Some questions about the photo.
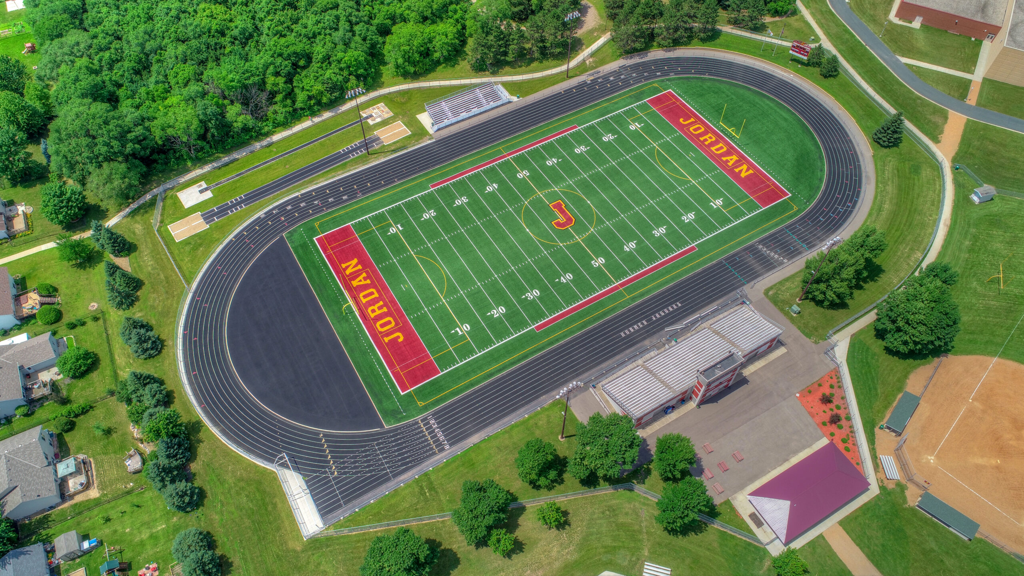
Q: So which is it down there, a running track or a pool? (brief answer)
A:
running track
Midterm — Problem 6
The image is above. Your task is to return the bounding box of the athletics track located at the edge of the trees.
[184,57,864,476]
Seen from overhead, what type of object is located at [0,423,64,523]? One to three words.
house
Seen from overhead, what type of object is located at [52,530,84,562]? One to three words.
shed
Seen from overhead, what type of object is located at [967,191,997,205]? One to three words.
shed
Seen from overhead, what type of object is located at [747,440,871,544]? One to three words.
building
